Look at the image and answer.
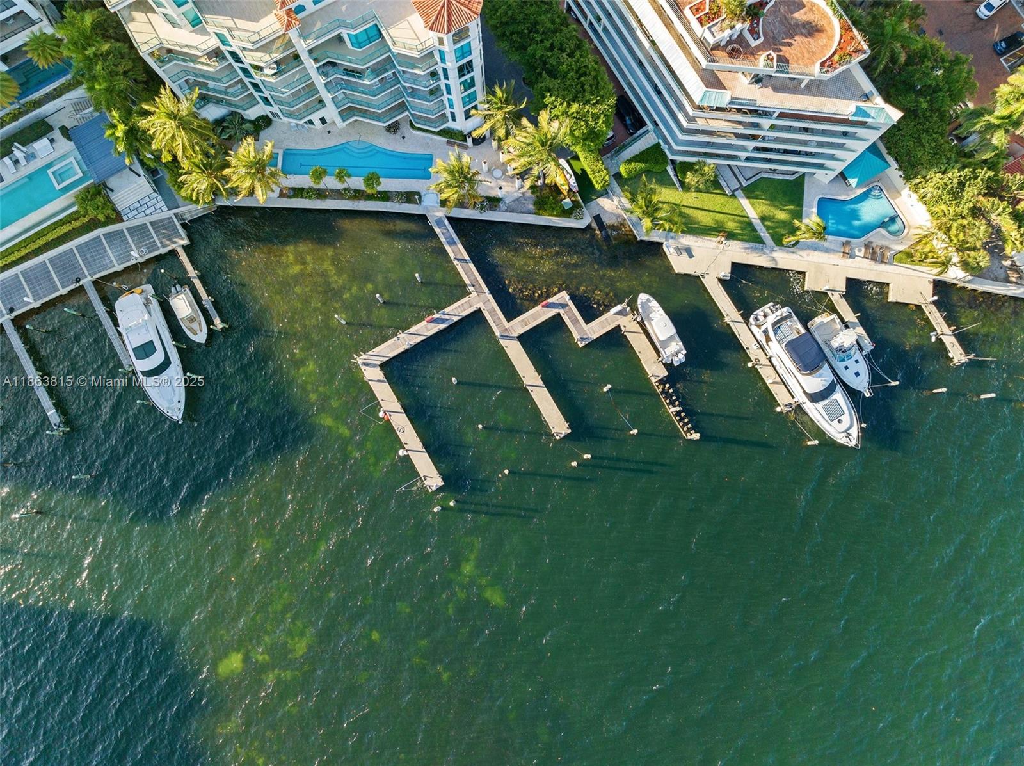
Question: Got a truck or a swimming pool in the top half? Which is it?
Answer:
swimming pool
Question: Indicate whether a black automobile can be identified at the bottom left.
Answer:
No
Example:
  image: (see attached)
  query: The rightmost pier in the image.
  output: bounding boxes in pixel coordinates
[920,305,967,365]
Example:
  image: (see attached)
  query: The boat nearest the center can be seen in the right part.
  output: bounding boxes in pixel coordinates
[637,294,682,368]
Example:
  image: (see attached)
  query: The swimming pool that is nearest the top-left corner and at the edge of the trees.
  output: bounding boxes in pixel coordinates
[0,54,73,109]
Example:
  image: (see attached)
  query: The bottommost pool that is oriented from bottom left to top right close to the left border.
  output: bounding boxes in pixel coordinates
[0,150,99,254]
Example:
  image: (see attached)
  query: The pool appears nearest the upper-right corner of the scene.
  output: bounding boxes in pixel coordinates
[814,180,908,241]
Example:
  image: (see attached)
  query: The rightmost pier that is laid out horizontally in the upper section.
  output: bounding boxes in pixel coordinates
[662,243,934,307]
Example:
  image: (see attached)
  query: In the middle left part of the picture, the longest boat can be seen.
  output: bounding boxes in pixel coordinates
[114,286,189,426]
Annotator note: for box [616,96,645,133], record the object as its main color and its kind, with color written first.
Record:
black car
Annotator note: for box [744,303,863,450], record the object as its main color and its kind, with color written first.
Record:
white boat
